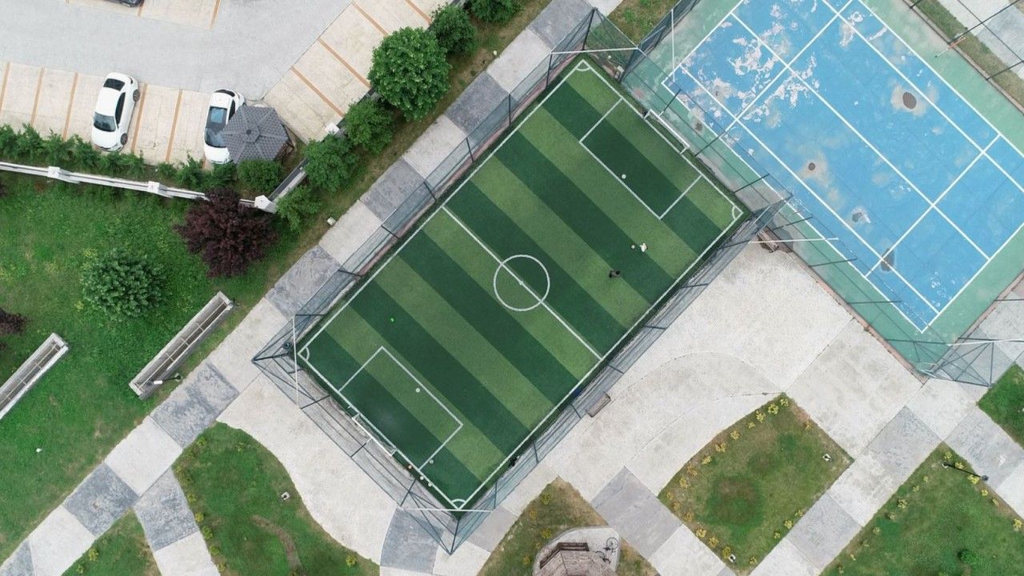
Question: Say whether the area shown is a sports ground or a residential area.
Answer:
sports ground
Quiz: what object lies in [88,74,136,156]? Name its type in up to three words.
car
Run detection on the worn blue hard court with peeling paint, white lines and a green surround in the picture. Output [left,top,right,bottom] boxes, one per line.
[621,0,1024,379]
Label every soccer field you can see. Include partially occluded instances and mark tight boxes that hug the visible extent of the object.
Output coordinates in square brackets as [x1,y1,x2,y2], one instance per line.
[282,45,757,524]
